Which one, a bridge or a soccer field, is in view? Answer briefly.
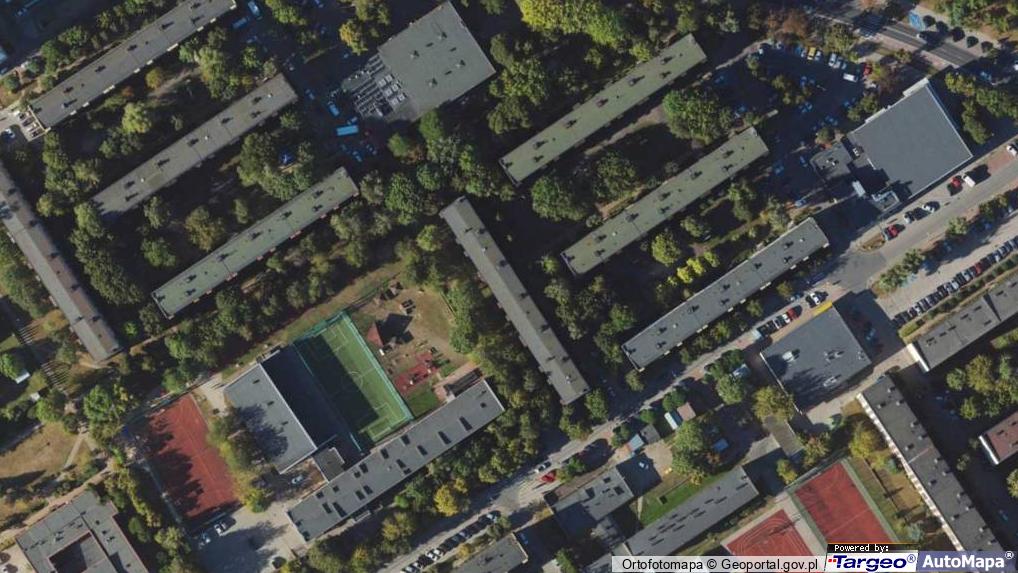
soccer field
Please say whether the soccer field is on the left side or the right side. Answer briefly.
left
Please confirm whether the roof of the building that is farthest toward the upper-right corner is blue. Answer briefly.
No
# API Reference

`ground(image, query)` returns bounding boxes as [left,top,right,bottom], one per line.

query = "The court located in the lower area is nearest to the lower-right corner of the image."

[791,459,910,573]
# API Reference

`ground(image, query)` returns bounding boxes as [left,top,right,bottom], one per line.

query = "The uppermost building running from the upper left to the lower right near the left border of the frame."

[0,171,122,364]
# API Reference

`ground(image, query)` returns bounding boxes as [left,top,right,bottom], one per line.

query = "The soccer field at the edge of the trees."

[290,311,416,452]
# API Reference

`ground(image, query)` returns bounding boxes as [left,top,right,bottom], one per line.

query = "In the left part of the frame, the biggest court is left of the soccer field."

[138,394,240,526]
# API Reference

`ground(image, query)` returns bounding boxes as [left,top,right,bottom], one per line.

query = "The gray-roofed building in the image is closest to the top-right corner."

[807,78,972,211]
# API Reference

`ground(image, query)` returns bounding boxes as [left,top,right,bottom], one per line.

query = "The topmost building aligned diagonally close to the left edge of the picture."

[29,0,241,131]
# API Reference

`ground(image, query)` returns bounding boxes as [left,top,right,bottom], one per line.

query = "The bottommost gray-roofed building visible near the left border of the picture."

[15,491,150,573]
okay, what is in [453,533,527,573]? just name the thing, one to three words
building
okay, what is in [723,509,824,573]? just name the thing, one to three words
sports court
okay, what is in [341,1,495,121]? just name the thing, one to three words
building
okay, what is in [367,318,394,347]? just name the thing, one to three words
shed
